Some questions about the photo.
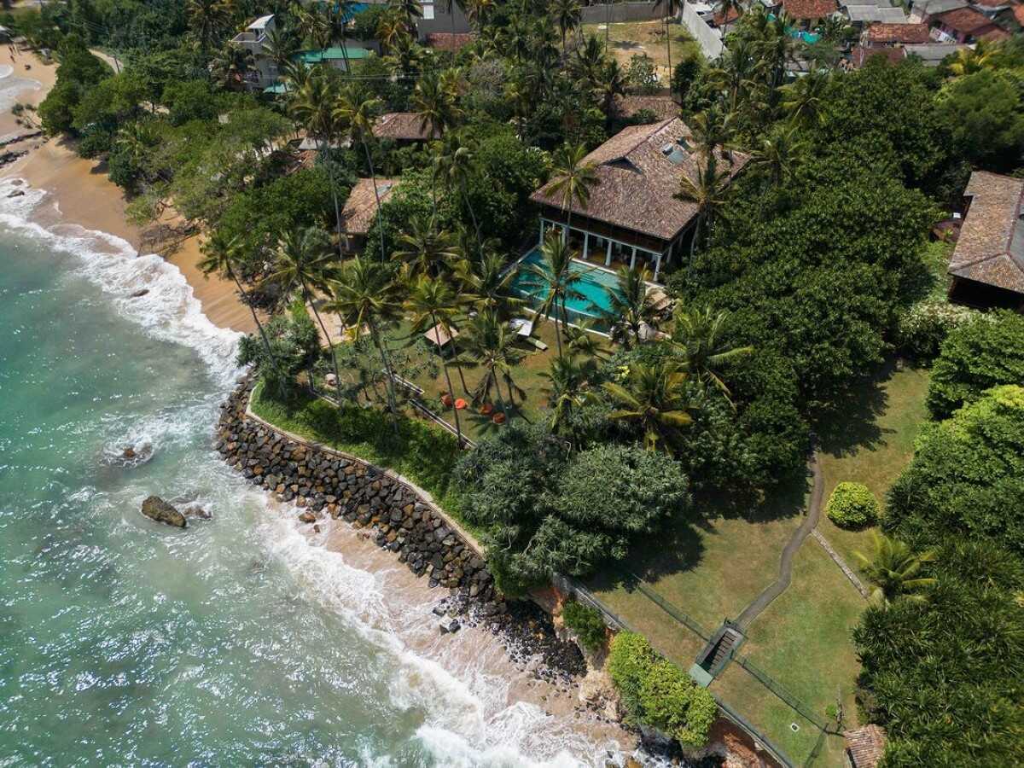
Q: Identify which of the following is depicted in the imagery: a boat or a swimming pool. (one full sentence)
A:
Visible in the photo is a swimming pool.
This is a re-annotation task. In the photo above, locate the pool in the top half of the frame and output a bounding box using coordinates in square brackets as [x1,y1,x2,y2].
[495,245,656,340]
